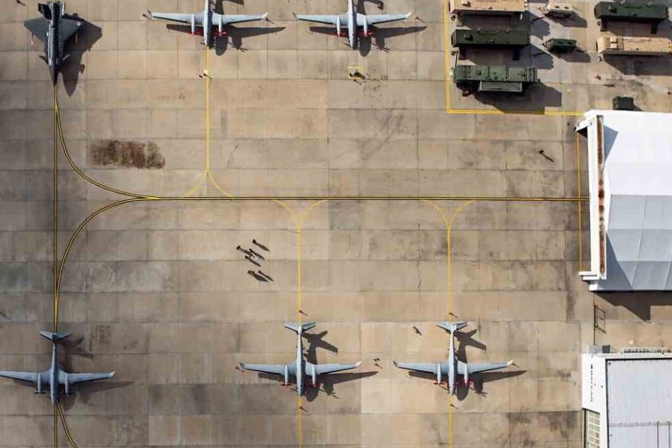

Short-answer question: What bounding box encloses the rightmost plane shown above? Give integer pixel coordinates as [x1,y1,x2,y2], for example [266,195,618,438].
[393,323,512,395]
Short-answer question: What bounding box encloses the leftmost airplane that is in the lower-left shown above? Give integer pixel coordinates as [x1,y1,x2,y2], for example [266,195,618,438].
[0,330,113,402]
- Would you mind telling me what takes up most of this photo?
paved ground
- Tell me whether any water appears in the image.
No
